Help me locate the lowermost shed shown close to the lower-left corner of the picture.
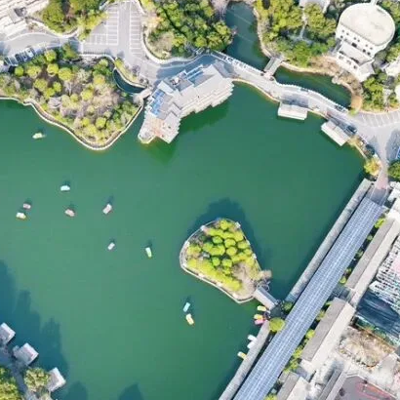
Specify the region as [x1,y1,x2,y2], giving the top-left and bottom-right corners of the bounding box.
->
[46,366,67,394]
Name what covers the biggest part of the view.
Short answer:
water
